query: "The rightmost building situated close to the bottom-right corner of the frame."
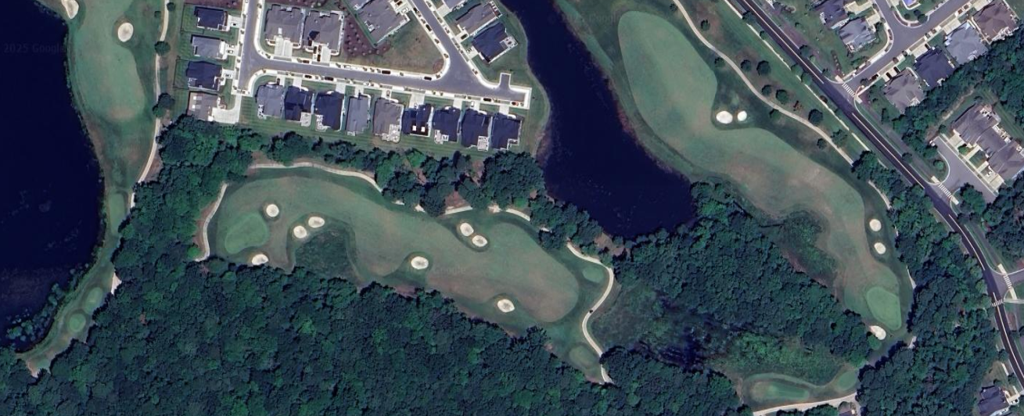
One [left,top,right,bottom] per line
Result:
[979,388,1007,416]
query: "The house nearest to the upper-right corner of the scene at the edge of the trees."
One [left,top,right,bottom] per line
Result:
[972,0,1010,41]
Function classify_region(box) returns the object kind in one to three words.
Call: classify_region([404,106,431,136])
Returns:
house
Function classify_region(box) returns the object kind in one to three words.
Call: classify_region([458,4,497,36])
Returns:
house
